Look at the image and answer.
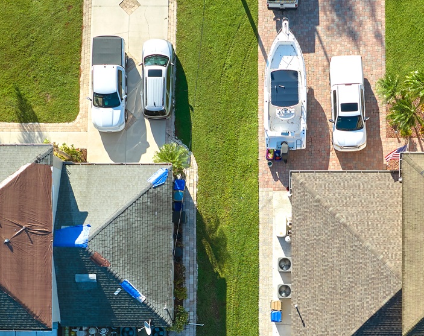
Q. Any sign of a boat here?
Yes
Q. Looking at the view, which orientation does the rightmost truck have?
up and down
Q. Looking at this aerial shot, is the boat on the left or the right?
right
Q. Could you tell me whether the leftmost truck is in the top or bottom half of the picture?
top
